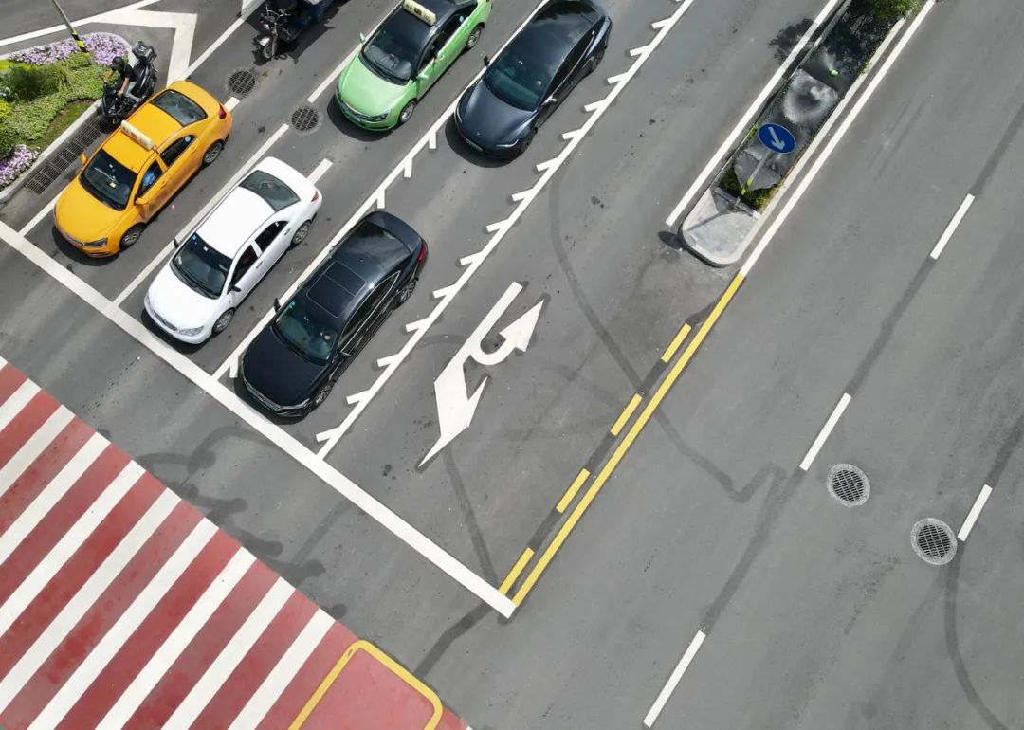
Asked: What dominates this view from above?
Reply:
paved ground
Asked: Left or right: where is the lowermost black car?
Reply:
left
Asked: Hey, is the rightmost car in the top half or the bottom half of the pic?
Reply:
top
